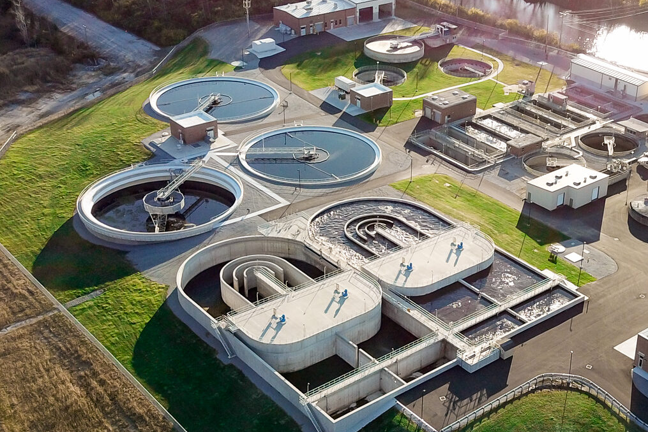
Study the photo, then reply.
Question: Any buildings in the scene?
Yes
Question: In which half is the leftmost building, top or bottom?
top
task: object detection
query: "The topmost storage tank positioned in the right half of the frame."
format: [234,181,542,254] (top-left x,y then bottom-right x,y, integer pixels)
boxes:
[363,28,440,62]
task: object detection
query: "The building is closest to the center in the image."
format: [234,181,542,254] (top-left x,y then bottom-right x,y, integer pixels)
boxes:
[351,83,392,112]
